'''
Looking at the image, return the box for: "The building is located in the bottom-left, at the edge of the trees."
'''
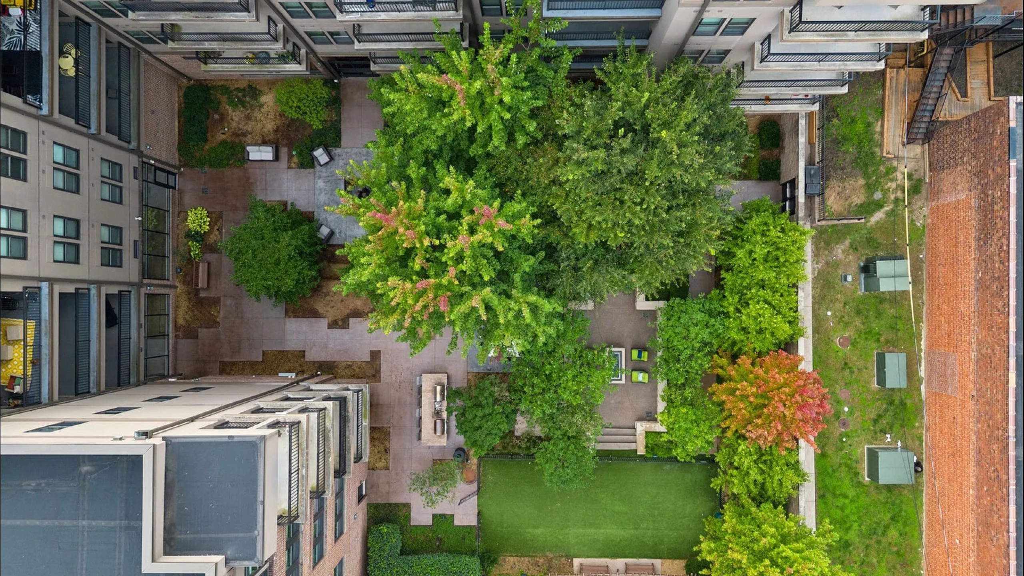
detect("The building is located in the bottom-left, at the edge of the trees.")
[0,370,370,576]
